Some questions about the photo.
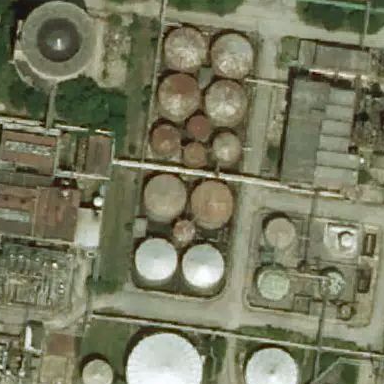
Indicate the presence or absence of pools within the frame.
No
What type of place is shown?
industrial area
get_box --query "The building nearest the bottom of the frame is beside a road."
[26,324,46,356]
